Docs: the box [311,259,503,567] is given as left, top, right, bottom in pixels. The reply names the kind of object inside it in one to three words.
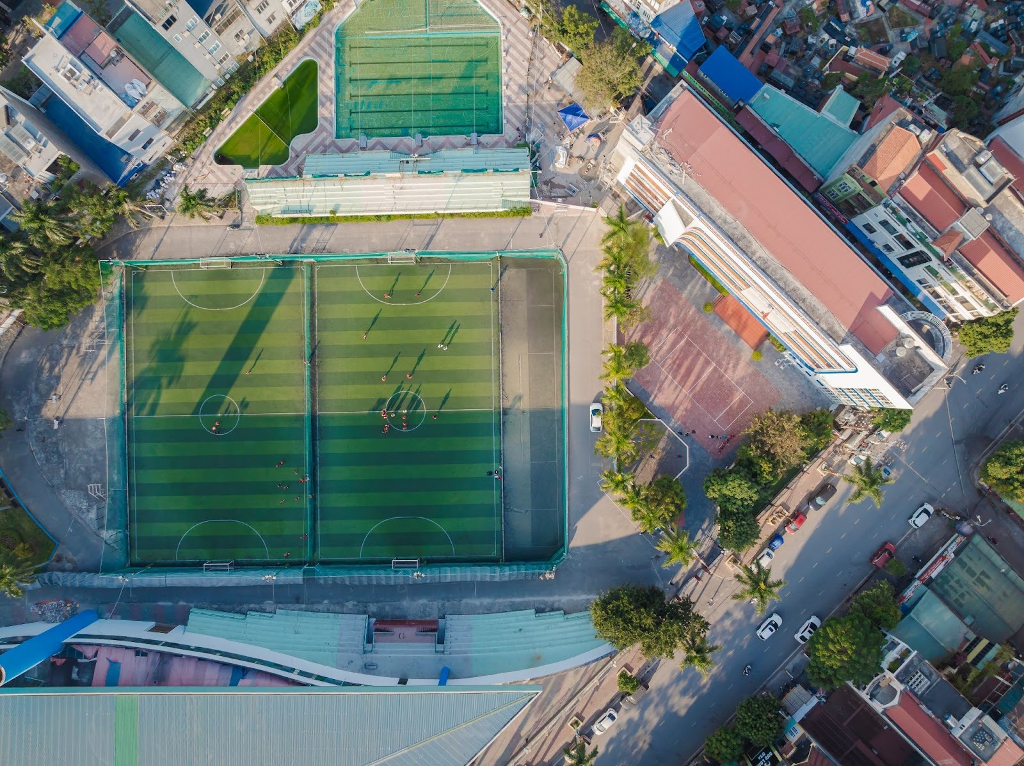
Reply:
soccer field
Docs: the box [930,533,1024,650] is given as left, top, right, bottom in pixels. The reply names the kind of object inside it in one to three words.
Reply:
building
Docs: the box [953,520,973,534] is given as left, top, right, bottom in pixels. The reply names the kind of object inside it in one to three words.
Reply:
umbrella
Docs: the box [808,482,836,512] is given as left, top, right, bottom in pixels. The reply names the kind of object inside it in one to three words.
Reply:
car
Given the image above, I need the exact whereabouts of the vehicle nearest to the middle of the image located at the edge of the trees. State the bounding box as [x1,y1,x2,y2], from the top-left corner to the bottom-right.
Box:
[589,404,603,431]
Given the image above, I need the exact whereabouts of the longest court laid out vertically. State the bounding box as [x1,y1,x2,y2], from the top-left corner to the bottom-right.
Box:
[503,259,566,566]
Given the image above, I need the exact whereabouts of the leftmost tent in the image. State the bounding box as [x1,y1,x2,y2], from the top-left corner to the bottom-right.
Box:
[556,106,590,136]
